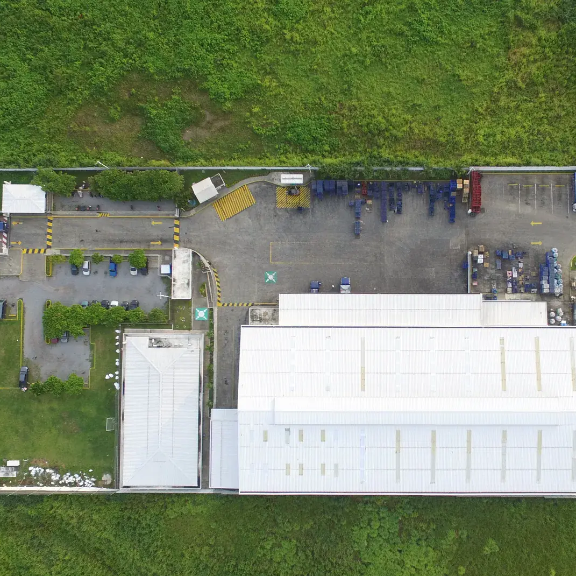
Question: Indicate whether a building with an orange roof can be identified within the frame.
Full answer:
No, the picture doesn't show any building with an orange roof.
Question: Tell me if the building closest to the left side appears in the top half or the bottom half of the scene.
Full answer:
The building closest to the left side is in the top half of the image.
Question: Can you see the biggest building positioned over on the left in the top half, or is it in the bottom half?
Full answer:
The biggest building positioned over on the left is in the bottom half of the image.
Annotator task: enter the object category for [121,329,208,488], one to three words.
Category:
building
